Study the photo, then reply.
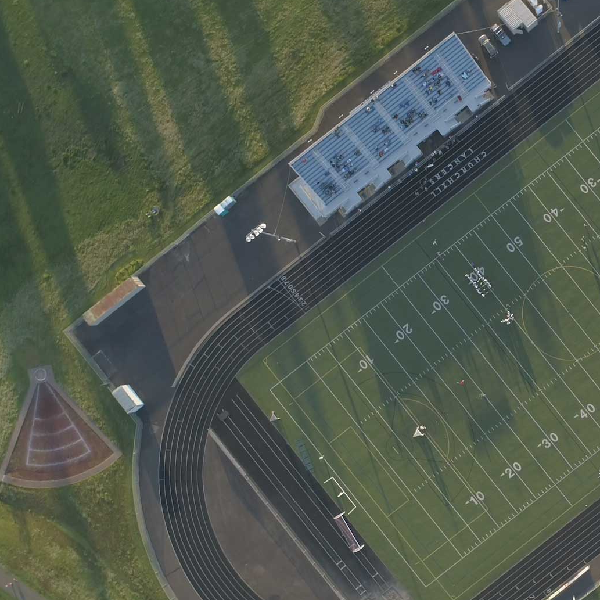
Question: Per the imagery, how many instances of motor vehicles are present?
2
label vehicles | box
[479,34,499,59]
[490,21,512,49]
